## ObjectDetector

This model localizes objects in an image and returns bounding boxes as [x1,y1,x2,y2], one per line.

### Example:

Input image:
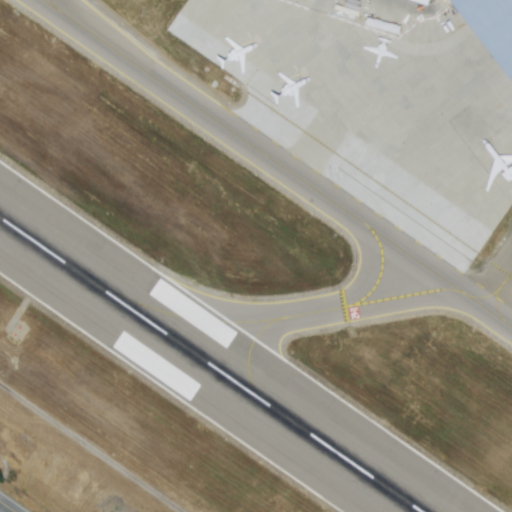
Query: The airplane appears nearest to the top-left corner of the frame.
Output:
[216,37,257,72]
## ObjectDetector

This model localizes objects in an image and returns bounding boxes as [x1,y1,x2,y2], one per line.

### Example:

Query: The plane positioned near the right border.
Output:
[484,140,512,192]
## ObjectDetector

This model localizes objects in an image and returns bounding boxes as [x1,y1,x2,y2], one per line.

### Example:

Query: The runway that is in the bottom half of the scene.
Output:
[0,160,505,512]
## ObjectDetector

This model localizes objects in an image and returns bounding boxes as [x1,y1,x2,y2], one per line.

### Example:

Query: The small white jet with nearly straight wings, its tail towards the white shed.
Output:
[364,36,398,68]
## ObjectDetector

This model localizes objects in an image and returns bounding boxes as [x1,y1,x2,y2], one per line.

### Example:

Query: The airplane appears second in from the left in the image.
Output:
[270,72,310,108]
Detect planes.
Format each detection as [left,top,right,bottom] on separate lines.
[364,36,398,68]
[484,140,512,192]
[216,37,257,72]
[270,72,310,108]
